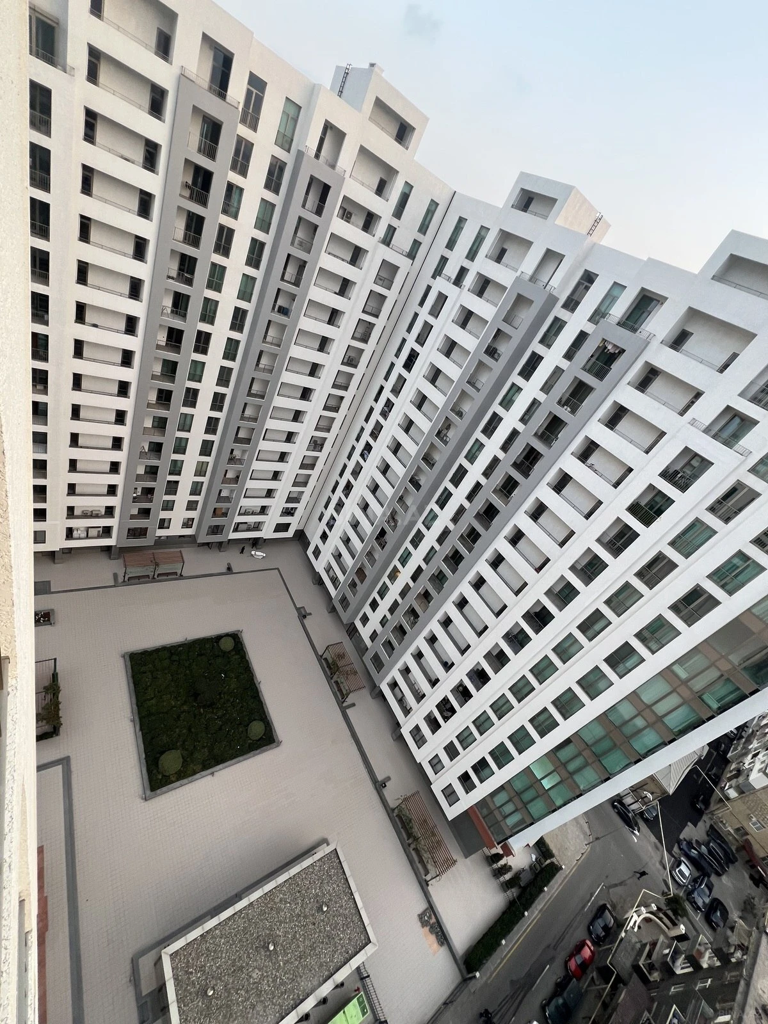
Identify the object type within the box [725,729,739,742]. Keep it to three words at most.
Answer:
vehicle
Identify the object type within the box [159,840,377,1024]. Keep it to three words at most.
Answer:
building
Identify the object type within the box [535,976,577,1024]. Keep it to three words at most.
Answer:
truck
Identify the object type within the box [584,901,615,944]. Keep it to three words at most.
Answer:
car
